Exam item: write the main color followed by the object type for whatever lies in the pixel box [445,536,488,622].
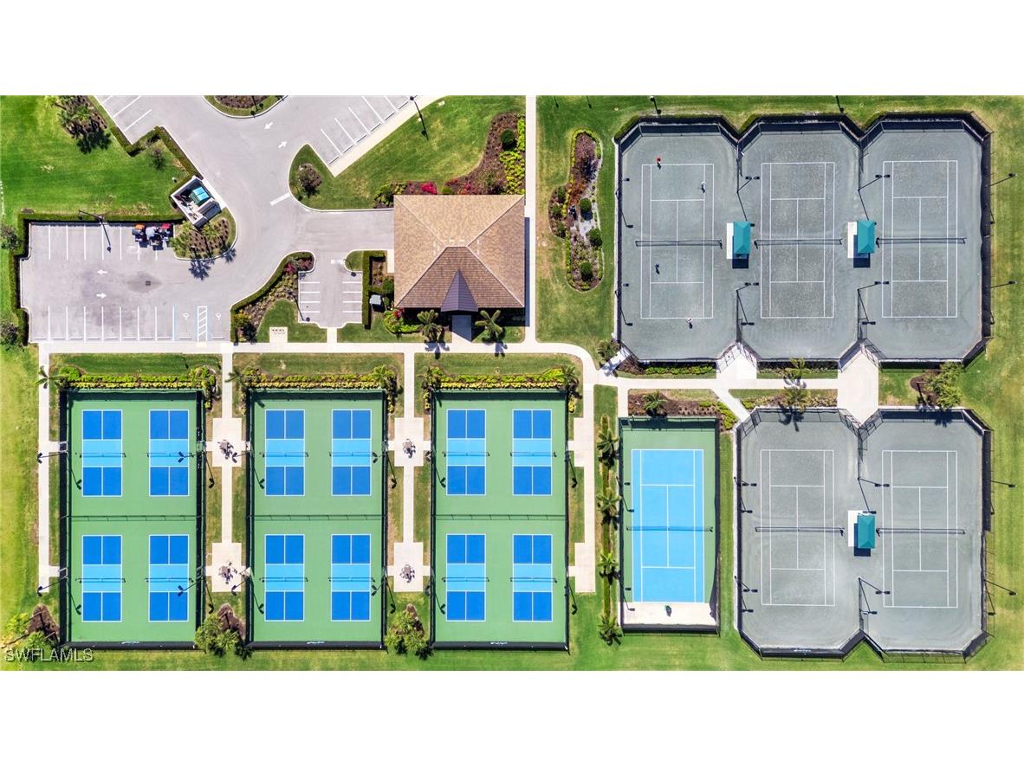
blue sports court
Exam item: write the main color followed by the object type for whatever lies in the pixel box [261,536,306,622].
blue sports court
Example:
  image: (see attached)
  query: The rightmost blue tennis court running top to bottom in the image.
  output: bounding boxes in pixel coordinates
[618,416,716,625]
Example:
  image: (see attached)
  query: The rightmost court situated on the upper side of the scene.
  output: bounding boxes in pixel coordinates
[859,120,982,359]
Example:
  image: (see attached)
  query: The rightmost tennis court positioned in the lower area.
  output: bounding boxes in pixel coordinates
[859,410,983,650]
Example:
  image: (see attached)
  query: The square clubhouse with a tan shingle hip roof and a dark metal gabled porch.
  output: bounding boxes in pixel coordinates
[394,194,524,314]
